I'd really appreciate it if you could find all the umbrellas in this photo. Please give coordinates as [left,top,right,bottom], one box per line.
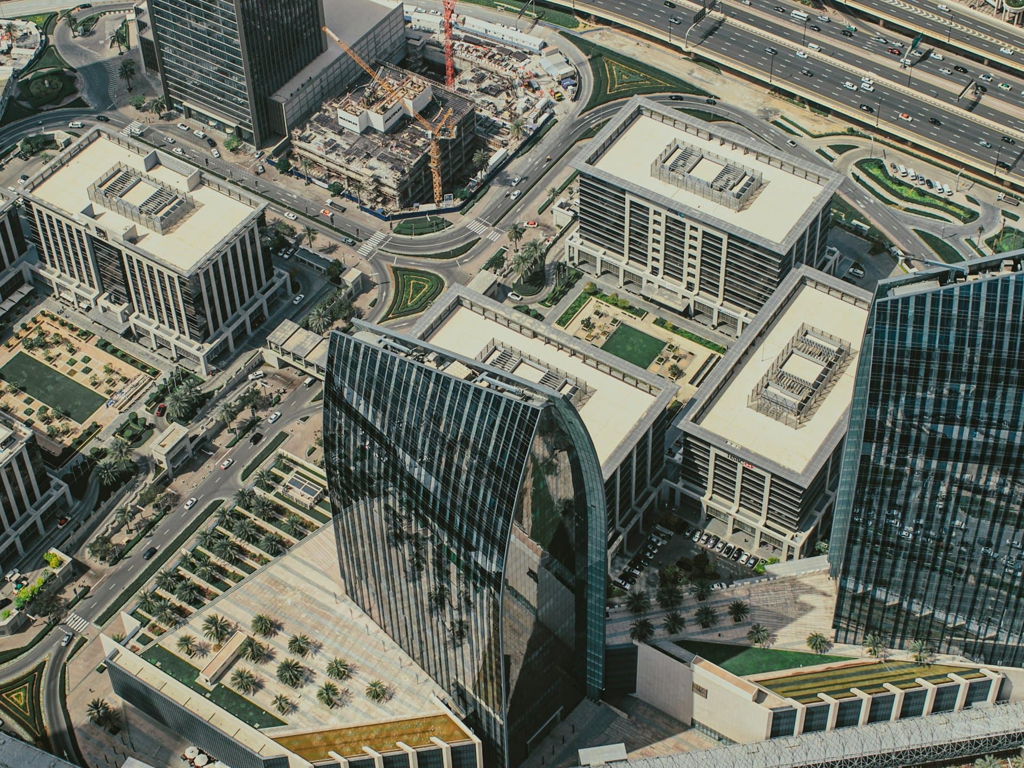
[193,754,209,768]
[213,759,229,768]
[184,746,200,760]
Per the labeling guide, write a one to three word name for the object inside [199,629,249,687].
house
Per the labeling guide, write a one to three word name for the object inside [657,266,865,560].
building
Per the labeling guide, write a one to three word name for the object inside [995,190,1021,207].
vehicle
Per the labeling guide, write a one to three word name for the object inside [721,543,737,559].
car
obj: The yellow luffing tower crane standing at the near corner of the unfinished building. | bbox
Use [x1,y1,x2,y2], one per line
[323,26,462,209]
